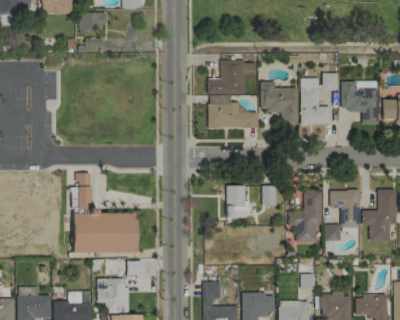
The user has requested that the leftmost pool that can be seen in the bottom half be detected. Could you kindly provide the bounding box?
[336,238,358,252]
